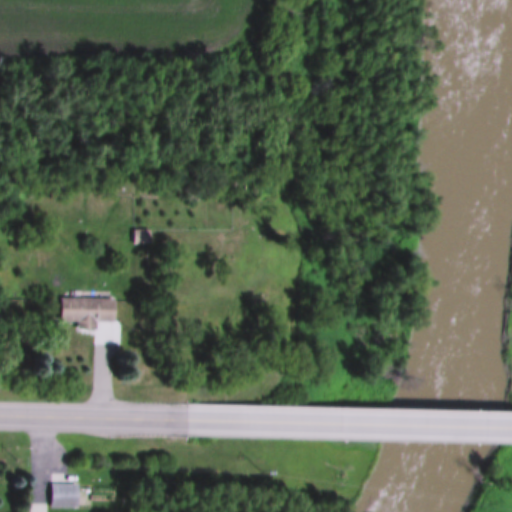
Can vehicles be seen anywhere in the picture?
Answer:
No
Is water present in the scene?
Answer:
Yes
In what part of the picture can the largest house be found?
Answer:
left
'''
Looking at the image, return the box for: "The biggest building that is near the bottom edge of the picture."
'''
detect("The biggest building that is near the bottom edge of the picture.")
[50,472,79,510]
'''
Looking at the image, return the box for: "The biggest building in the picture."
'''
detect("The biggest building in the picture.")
[62,290,117,330]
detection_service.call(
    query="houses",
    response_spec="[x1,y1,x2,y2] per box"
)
[62,290,117,330]
[50,472,79,510]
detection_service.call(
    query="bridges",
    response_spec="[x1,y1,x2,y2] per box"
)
[186,404,512,444]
